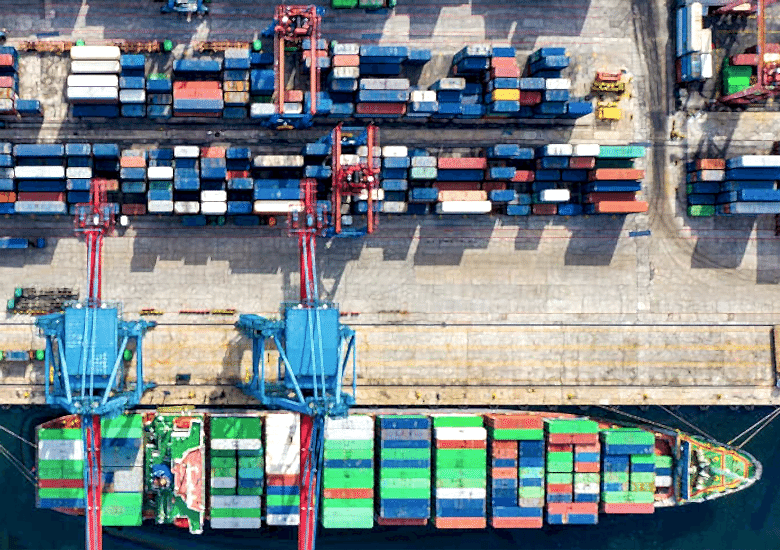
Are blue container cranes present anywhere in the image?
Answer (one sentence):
Yes, there's a blue container crane down there.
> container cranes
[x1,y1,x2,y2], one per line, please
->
[42,172,163,550]
[712,0,780,113]
[267,0,320,130]
[320,119,377,241]
[235,172,360,550]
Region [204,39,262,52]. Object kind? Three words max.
vehicle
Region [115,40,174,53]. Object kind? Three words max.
vehicle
